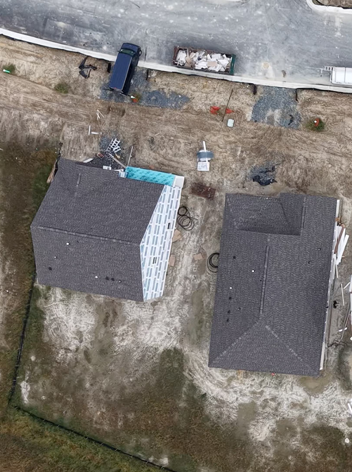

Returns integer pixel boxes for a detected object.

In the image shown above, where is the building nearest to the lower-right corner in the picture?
[208,192,339,376]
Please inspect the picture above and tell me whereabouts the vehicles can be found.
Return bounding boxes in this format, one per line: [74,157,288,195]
[97,41,144,97]
[328,65,352,85]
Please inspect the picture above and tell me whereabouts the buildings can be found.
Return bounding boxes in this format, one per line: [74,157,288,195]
[31,155,184,302]
[208,192,339,376]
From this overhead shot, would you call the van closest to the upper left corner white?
No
